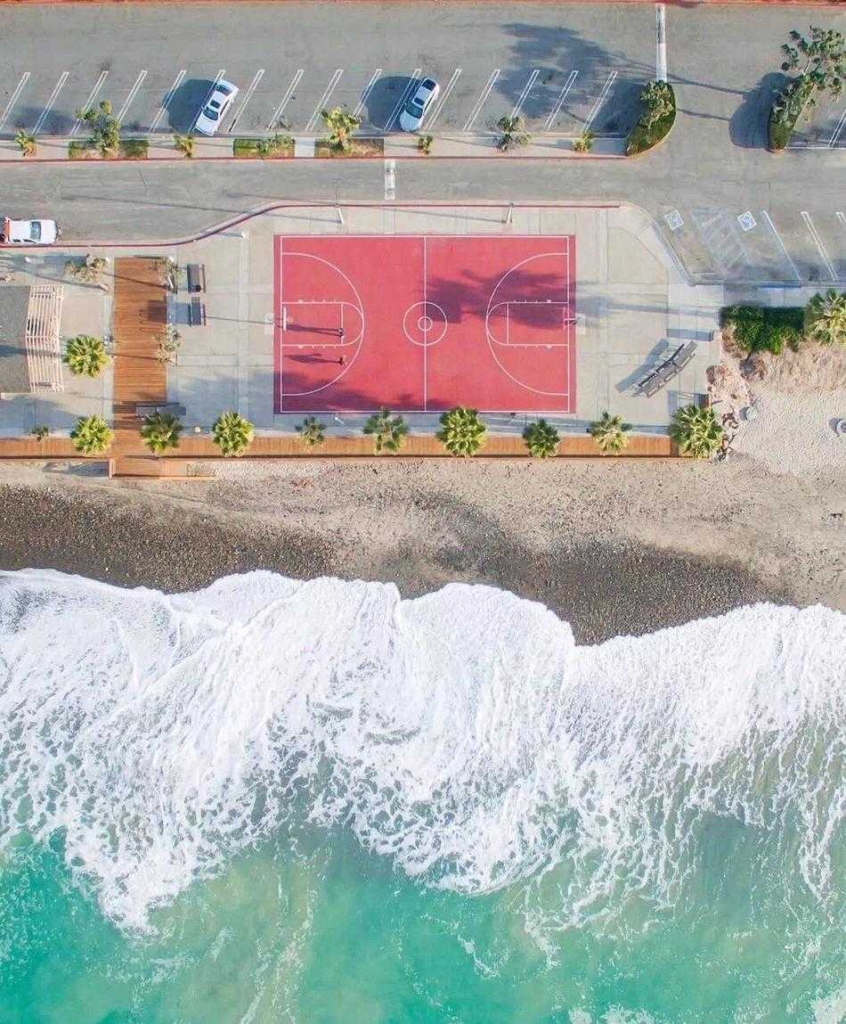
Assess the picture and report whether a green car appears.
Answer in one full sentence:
No, no green car is visible in the scene.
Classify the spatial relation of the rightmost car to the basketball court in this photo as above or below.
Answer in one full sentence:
Looking at the scene, the rightmost car is located above the basketball court.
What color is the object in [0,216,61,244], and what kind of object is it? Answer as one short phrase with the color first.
white truck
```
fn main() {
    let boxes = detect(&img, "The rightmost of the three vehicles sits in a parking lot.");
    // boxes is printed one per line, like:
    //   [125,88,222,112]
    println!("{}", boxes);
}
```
[402,78,439,133]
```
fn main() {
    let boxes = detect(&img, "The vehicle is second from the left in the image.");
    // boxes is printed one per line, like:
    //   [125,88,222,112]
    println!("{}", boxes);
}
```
[197,81,238,136]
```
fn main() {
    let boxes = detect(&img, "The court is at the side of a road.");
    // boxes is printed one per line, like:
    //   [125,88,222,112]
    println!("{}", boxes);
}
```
[274,235,576,415]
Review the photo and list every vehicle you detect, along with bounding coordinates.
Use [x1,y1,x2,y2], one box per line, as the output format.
[0,216,61,244]
[402,78,439,133]
[197,81,238,136]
